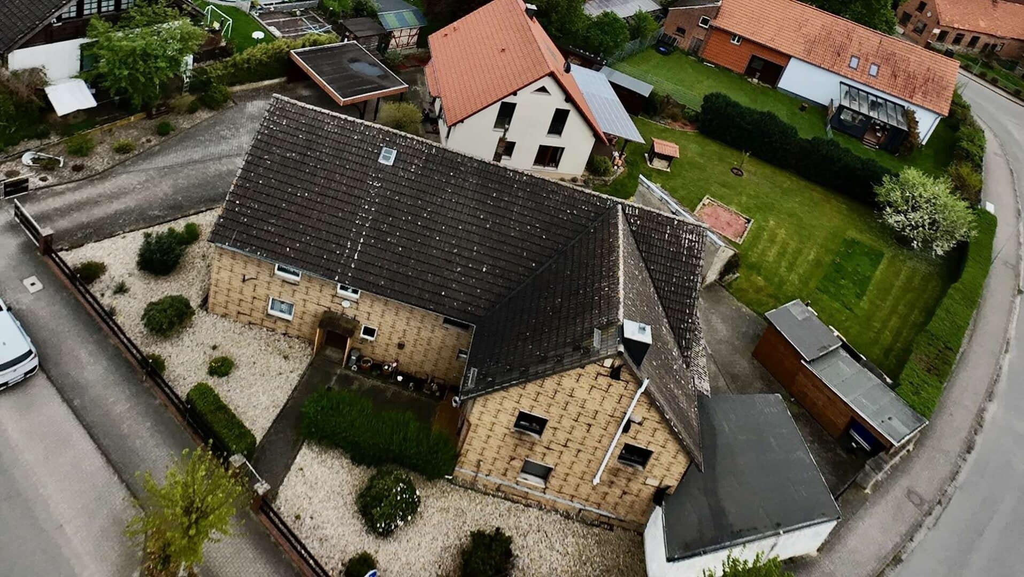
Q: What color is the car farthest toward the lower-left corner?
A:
white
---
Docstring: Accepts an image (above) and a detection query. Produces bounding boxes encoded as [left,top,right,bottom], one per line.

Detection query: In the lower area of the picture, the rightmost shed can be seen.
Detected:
[744,301,930,466]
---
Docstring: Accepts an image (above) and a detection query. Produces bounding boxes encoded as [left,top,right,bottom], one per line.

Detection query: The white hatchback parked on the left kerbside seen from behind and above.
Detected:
[0,313,39,393]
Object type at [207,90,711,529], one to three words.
house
